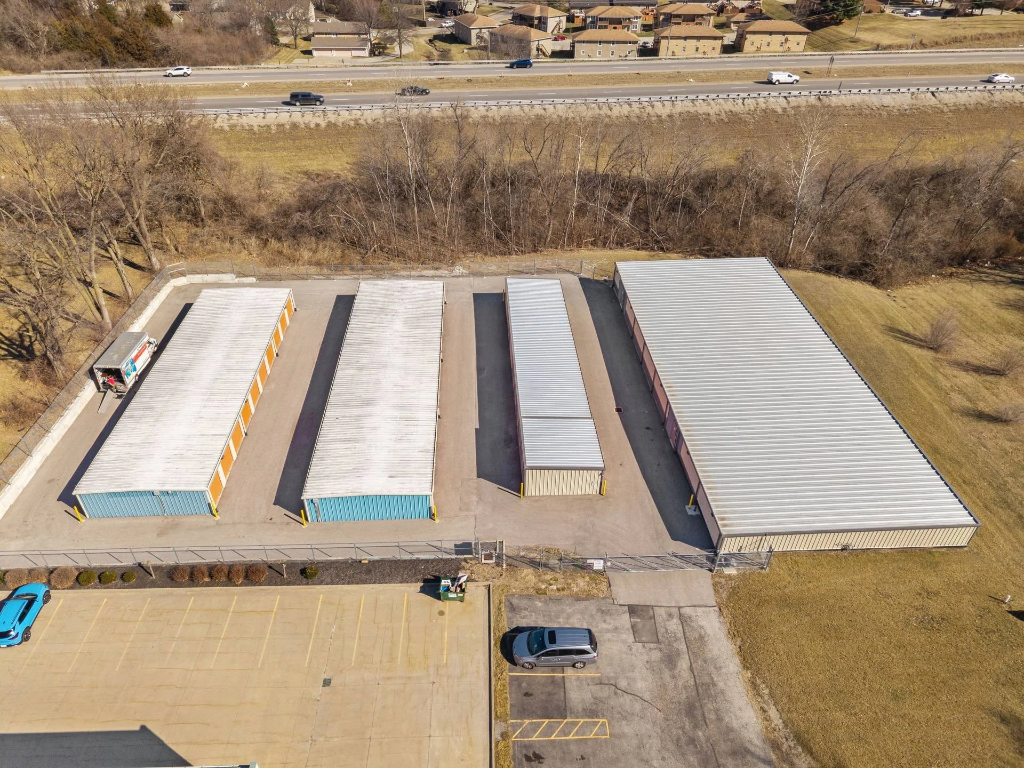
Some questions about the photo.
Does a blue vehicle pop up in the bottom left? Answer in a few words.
Yes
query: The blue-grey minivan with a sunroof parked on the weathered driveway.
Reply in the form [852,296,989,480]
[512,624,602,670]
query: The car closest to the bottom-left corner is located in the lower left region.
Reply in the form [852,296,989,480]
[0,583,52,650]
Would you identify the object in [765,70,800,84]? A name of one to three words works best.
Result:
vehicle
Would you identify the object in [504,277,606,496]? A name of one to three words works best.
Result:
building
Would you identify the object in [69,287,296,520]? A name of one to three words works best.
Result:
building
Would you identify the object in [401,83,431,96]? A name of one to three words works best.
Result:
vehicle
